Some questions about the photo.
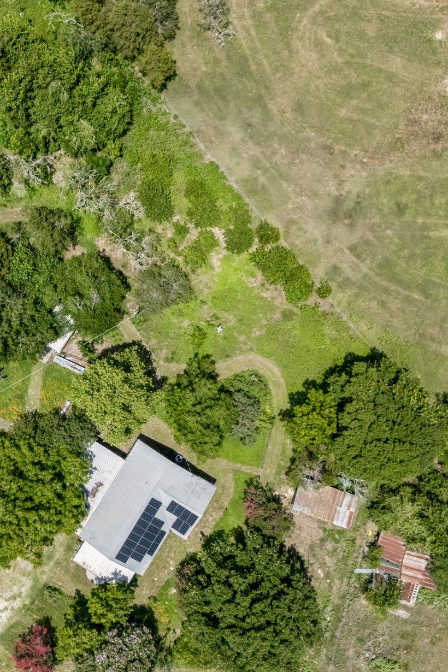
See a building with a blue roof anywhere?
No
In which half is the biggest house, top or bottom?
bottom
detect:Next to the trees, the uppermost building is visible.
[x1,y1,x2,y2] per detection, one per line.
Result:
[45,308,79,364]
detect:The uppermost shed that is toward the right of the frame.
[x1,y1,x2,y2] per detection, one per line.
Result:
[291,484,356,529]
